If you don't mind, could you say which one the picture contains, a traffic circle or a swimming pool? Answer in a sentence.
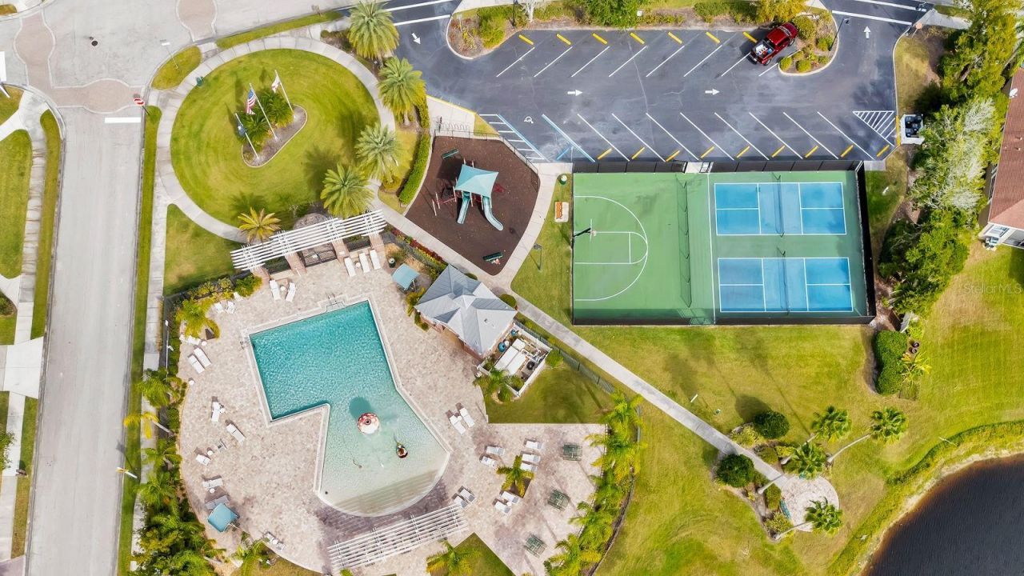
Visible in the photo is a swimming pool.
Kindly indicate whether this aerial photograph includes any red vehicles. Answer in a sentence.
Yes, this view includes a red vehicle.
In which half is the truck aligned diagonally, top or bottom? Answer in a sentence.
The top half of the photo is where the truck aligned diagonally is.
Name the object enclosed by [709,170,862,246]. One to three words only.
sports court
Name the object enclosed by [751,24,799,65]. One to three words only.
truck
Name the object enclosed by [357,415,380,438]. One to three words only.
fountain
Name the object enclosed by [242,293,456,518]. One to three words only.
swimming pool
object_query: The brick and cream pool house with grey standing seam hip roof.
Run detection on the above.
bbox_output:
[414,265,519,364]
